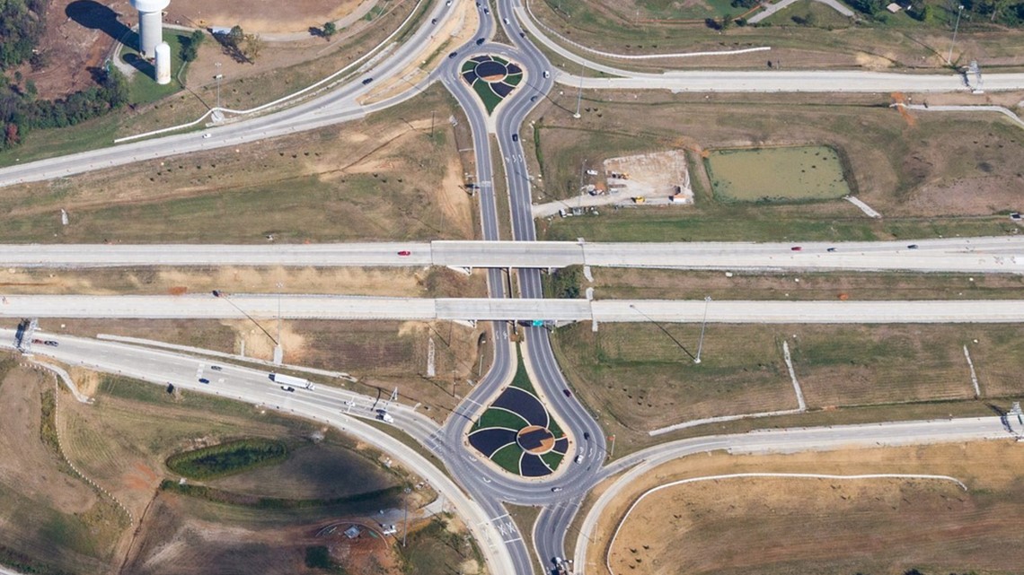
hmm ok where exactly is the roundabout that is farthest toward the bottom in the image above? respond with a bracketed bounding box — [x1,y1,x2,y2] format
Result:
[432,339,624,508]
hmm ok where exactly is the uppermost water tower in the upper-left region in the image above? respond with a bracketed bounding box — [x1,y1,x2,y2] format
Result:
[127,0,171,60]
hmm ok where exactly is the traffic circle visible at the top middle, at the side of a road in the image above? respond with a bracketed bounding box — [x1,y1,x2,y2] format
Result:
[428,38,557,135]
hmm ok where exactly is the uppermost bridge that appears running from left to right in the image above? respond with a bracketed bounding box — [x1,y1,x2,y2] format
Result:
[430,241,585,279]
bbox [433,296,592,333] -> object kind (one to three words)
bridge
